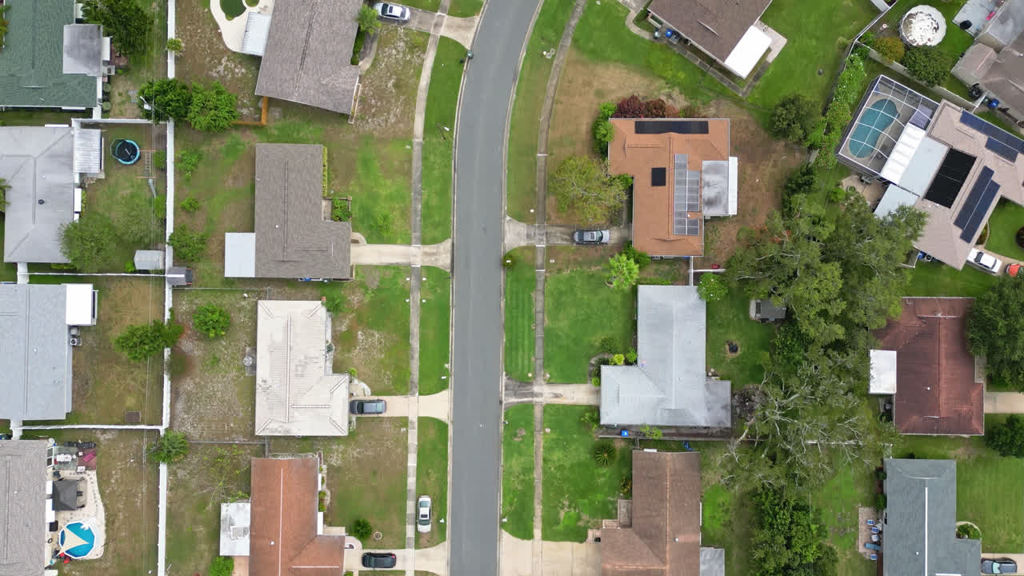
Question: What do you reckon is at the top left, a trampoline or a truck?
trampoline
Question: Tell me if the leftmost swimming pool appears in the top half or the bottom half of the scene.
bottom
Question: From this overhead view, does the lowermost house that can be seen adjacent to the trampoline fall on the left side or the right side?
left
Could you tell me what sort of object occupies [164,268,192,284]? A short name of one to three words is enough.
shed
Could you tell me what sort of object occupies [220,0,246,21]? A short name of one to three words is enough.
swimming pool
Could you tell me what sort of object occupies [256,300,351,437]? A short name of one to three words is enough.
house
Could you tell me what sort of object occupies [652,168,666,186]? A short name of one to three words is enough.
solar panel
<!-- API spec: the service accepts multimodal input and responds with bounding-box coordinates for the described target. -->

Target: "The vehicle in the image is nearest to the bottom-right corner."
[981,556,1018,575]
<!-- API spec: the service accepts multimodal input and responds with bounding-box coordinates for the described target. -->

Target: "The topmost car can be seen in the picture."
[375,3,411,23]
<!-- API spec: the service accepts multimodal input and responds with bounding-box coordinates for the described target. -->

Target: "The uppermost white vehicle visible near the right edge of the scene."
[966,247,1004,274]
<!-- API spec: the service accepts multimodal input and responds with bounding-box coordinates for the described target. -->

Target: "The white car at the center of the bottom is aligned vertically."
[416,493,433,531]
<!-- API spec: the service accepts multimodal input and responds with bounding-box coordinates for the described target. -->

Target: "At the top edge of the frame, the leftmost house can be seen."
[0,0,111,109]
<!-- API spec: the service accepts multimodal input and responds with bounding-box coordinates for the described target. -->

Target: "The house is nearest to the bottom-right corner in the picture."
[876,457,981,576]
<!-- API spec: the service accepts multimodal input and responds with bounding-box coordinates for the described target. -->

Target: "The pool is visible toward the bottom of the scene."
[60,520,98,557]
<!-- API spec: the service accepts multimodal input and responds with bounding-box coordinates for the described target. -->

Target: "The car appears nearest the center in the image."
[572,228,610,246]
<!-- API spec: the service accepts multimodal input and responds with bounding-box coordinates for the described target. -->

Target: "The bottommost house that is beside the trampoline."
[0,126,107,263]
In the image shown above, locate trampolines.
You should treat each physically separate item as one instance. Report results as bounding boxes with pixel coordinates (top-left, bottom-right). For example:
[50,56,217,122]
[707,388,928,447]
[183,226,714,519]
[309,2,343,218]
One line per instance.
[107,136,144,166]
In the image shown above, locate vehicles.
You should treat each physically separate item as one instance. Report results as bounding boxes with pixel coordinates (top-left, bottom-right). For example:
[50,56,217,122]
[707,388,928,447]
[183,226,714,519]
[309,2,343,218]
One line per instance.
[416,493,433,531]
[981,556,1018,575]
[350,398,387,415]
[361,549,398,569]
[375,3,411,23]
[572,228,610,246]
[1002,262,1024,280]
[966,247,1004,274]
